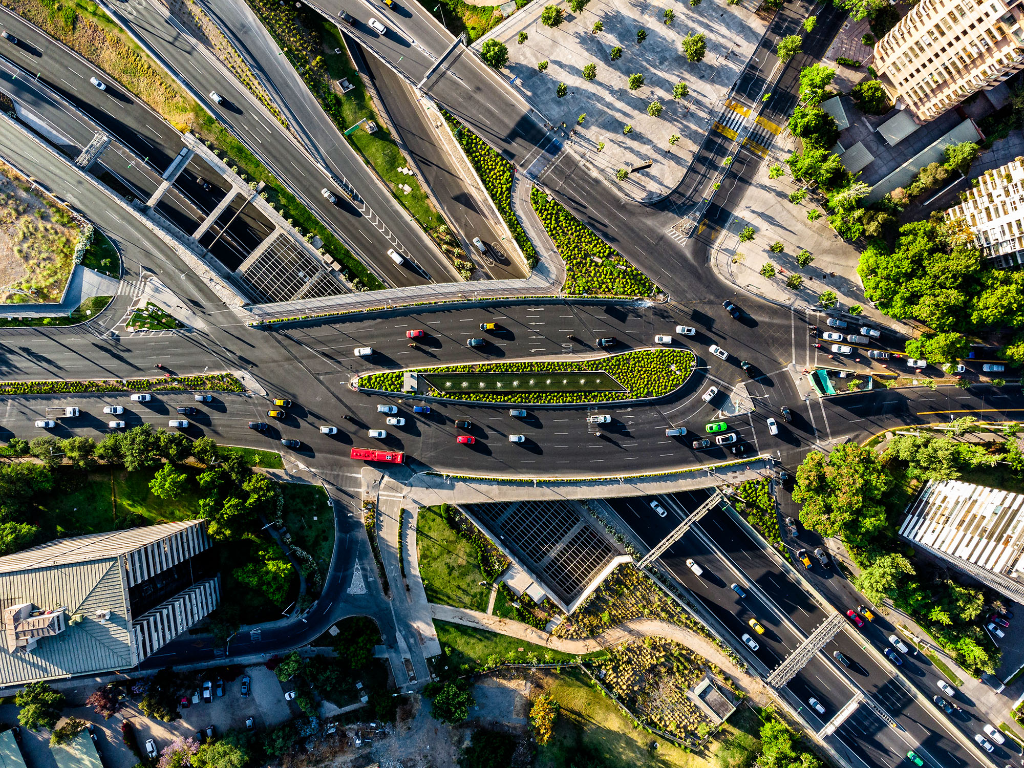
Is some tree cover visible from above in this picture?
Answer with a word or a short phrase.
Yes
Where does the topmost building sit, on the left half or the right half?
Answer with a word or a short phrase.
right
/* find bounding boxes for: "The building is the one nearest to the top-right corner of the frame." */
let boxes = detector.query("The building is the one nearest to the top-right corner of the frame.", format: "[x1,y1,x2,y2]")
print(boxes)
[876,0,1024,120]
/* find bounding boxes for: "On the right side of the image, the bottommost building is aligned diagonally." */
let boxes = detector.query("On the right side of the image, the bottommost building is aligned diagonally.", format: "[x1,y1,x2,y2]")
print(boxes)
[692,674,737,723]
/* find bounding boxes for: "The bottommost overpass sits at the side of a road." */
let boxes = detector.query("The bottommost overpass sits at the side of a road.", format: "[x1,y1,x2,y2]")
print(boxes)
[239,169,774,508]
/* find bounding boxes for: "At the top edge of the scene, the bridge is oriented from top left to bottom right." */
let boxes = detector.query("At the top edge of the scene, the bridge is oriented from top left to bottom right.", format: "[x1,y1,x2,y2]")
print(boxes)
[299,0,552,158]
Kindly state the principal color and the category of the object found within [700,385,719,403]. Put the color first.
white car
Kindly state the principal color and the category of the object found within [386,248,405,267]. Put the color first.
white vehicle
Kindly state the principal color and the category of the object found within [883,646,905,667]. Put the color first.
blue truck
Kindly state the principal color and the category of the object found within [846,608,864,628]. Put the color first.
red car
